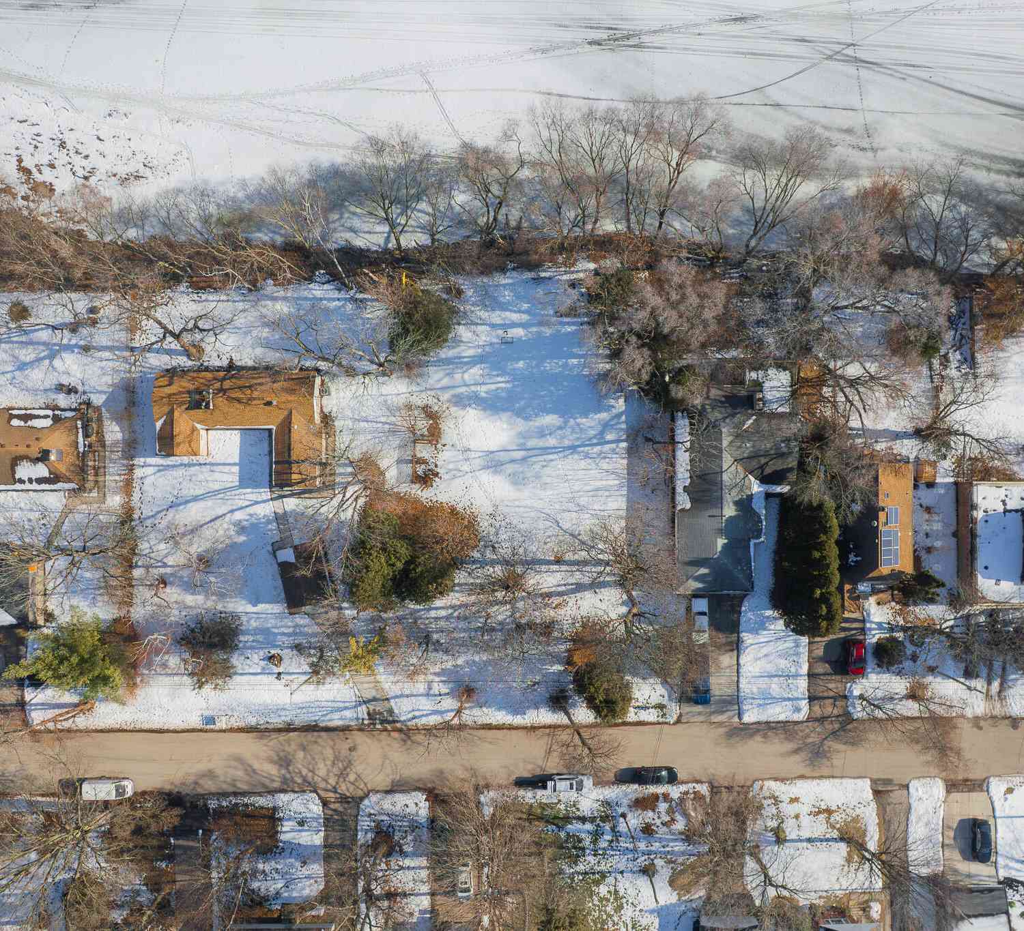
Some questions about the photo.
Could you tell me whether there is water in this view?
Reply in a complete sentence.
Yes, some water is visible.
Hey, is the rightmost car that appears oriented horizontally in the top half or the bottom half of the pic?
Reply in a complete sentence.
The bottom half of the photo is where the rightmost car that appears oriented horizontally is.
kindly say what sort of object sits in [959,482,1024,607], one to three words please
house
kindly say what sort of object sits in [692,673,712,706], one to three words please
car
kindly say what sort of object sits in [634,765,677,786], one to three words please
car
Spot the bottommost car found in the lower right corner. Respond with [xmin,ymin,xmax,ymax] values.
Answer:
[966,818,989,861]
